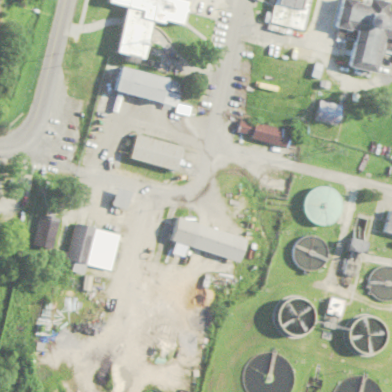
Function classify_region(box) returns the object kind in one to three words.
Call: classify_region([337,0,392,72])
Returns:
house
